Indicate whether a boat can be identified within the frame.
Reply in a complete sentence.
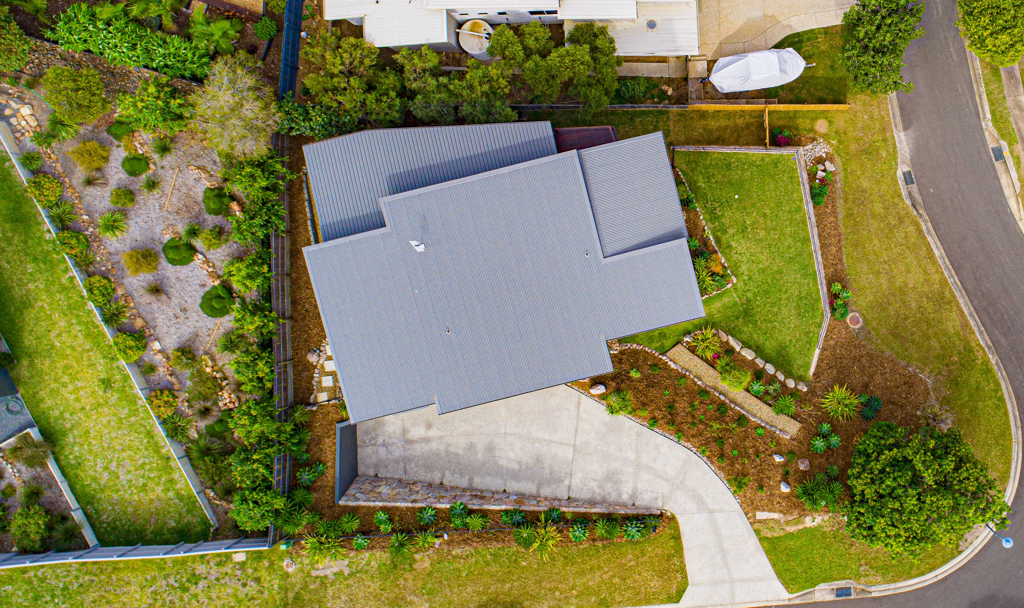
Yes, there is a boat in the image.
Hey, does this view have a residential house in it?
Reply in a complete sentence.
Yes, a residential house appears in the view.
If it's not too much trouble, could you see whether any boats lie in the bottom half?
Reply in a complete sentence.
No, I can find no boat in the bottom half.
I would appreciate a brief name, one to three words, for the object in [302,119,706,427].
house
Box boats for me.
[699,48,817,94]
